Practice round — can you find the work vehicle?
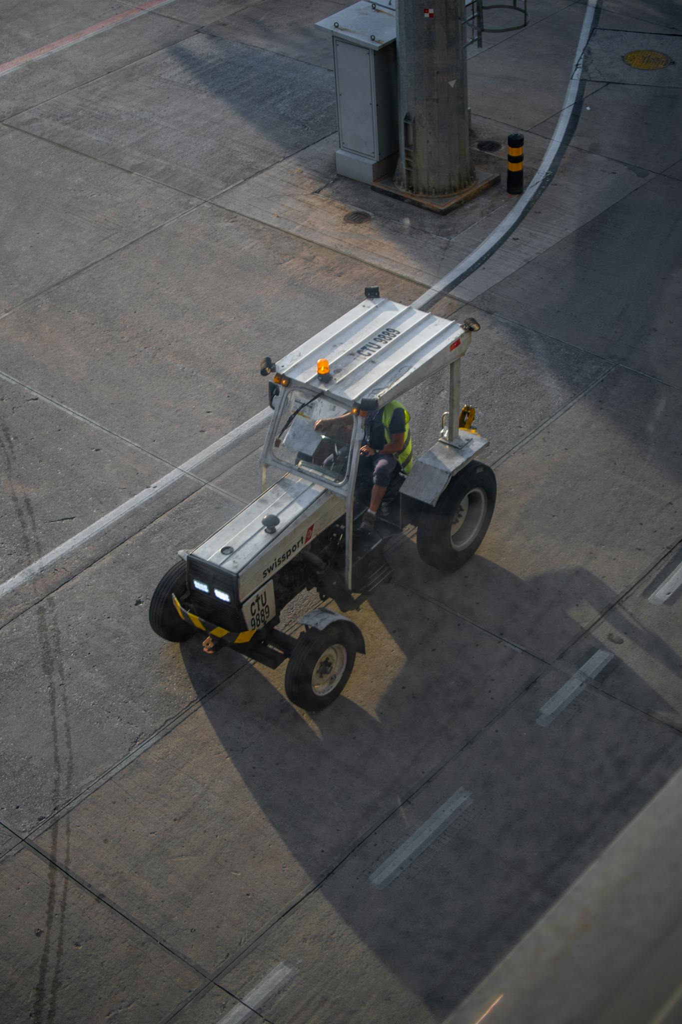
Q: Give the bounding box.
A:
[147,281,498,715]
